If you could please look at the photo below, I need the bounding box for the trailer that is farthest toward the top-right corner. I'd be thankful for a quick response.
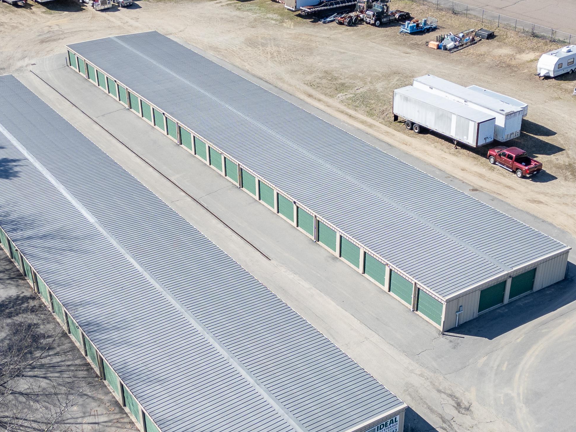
[538,45,576,83]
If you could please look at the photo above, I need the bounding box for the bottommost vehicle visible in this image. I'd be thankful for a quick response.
[484,147,545,178]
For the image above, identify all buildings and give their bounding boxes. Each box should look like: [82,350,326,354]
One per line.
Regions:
[0,72,410,432]
[64,29,573,331]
